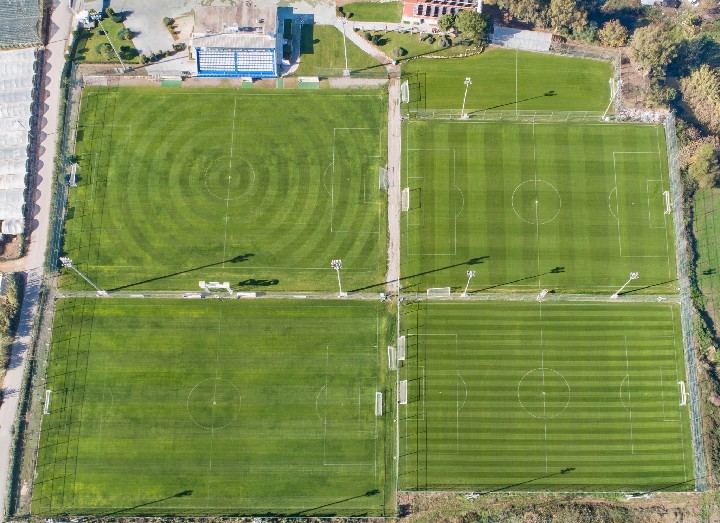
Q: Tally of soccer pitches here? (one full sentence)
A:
The count of soccer pitches comes to 5.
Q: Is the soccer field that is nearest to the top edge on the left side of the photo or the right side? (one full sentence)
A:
You can find the soccer field that is nearest to the top edge on the right side of the picture.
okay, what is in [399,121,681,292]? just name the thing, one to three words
soccer field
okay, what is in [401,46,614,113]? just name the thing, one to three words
soccer field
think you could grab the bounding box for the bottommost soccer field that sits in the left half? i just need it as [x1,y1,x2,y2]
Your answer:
[31,299,396,517]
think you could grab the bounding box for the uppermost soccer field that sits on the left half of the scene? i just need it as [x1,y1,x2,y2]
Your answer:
[58,87,390,291]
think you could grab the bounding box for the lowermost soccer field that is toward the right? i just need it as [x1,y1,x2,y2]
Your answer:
[398,302,698,490]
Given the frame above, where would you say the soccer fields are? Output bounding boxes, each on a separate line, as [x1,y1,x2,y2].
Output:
[398,302,698,490]
[31,299,396,517]
[401,46,614,113]
[58,87,390,291]
[399,121,681,292]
